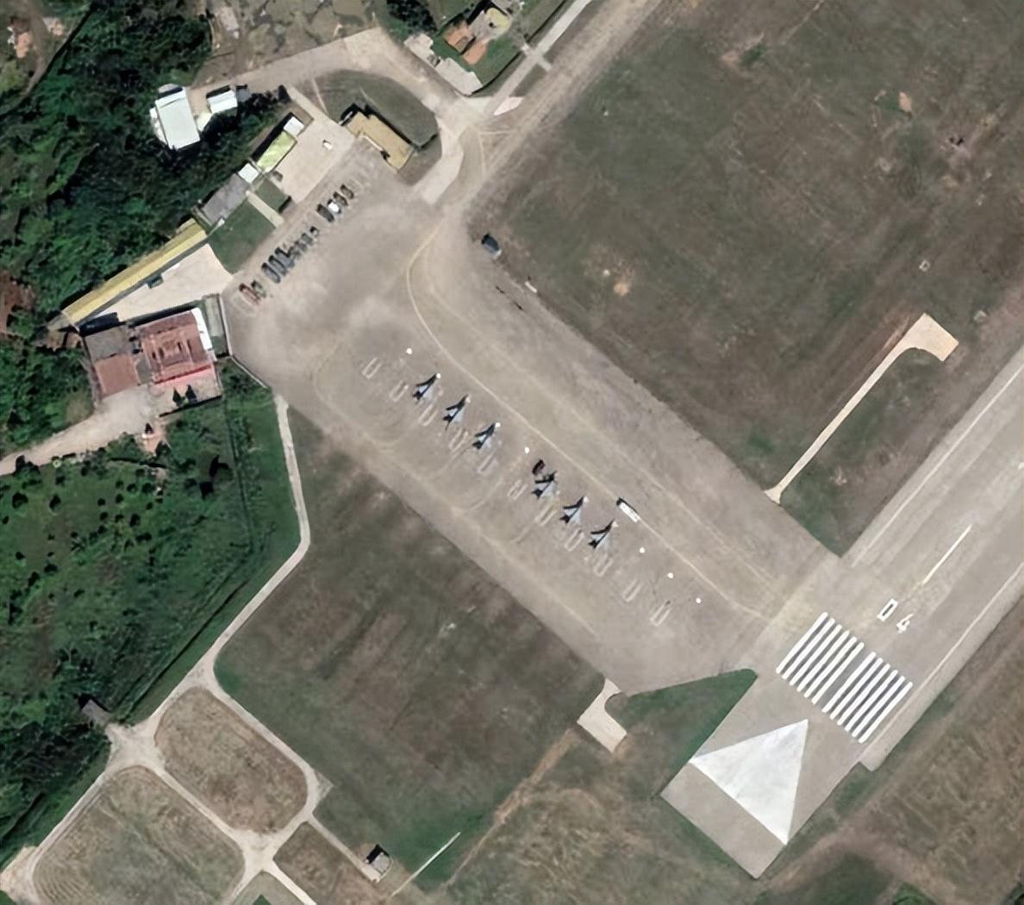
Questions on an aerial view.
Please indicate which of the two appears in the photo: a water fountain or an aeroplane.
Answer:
aeroplane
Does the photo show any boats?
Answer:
No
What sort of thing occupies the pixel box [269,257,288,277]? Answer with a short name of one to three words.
vehicle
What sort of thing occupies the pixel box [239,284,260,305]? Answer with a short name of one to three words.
truck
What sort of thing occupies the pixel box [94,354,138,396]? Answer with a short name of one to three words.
house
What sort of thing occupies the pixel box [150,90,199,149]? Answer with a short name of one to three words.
shed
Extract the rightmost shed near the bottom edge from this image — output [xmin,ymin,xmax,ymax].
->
[363,854,392,879]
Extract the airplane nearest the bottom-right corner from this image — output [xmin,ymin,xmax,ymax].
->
[589,521,614,550]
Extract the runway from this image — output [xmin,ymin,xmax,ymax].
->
[662,346,1024,877]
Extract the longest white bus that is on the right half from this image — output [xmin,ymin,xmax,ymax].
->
[618,502,641,523]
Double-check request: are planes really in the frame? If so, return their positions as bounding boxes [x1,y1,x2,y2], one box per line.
[413,376,438,405]
[472,424,498,455]
[531,472,556,502]
[559,496,586,528]
[443,395,469,425]
[589,521,614,550]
